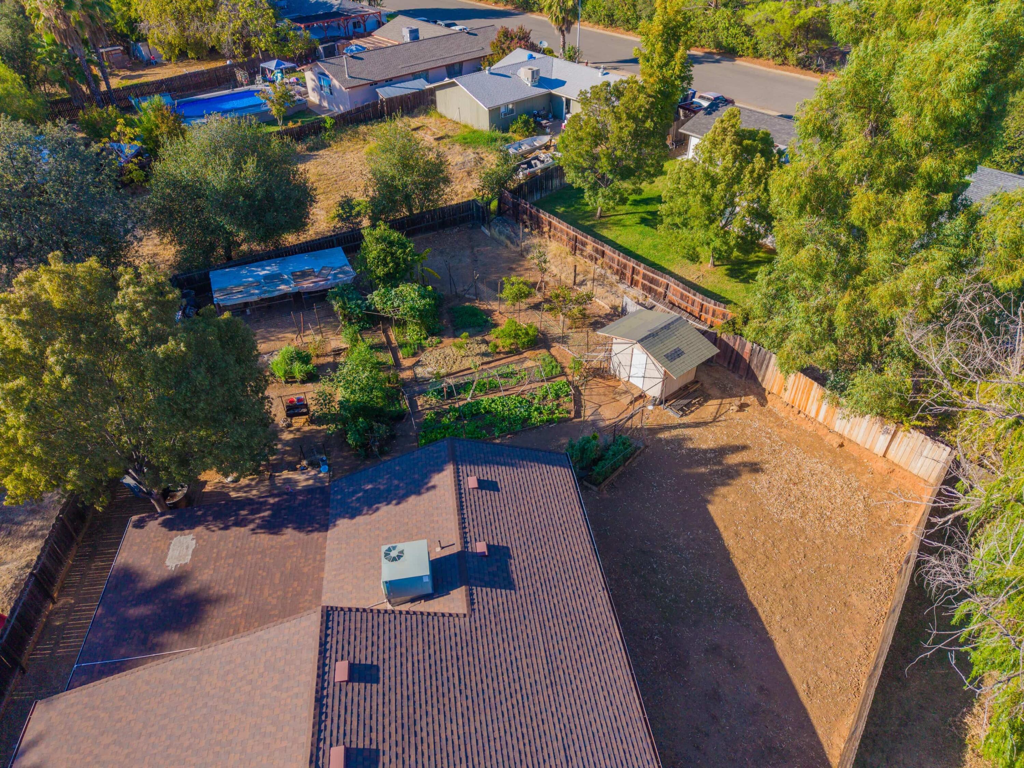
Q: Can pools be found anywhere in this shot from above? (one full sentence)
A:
Yes, the picture does show a pool.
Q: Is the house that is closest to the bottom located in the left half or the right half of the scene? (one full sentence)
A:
It is on the left.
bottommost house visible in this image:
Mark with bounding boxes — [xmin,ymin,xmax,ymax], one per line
[5,439,665,768]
